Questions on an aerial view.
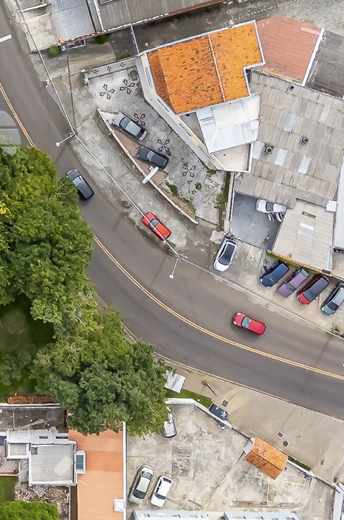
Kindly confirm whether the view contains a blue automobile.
Yes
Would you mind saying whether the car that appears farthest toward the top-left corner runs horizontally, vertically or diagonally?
diagonally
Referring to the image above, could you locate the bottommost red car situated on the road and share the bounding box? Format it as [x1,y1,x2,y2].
[234,312,267,336]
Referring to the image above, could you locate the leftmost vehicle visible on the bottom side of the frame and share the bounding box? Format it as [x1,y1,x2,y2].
[130,467,154,504]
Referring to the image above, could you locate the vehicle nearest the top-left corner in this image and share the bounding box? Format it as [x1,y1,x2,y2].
[113,113,148,142]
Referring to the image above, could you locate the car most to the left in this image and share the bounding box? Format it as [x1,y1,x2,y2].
[66,169,96,201]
